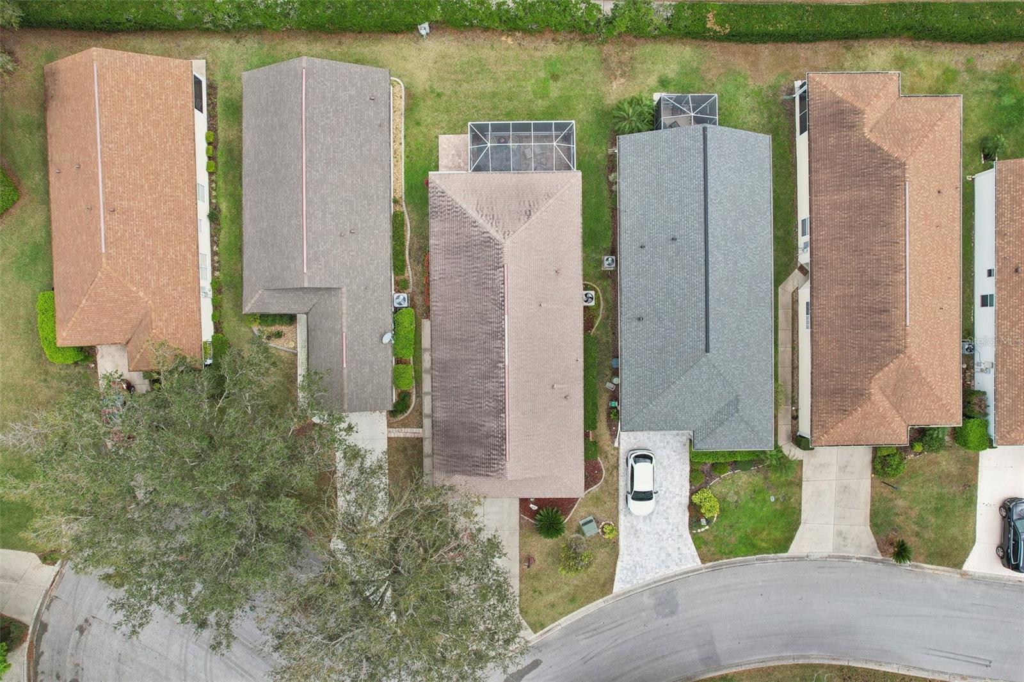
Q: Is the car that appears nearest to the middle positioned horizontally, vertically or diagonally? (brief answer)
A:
vertically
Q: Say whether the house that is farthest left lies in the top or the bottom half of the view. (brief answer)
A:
top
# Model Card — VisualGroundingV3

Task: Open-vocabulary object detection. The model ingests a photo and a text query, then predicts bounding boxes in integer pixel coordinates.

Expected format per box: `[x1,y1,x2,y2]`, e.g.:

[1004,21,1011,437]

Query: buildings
[791,70,964,448]
[243,56,394,411]
[613,94,775,451]
[45,48,213,372]
[428,120,585,498]
[969,158,1024,447]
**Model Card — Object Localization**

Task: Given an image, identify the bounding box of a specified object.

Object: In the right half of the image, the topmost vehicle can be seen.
[625,452,658,517]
